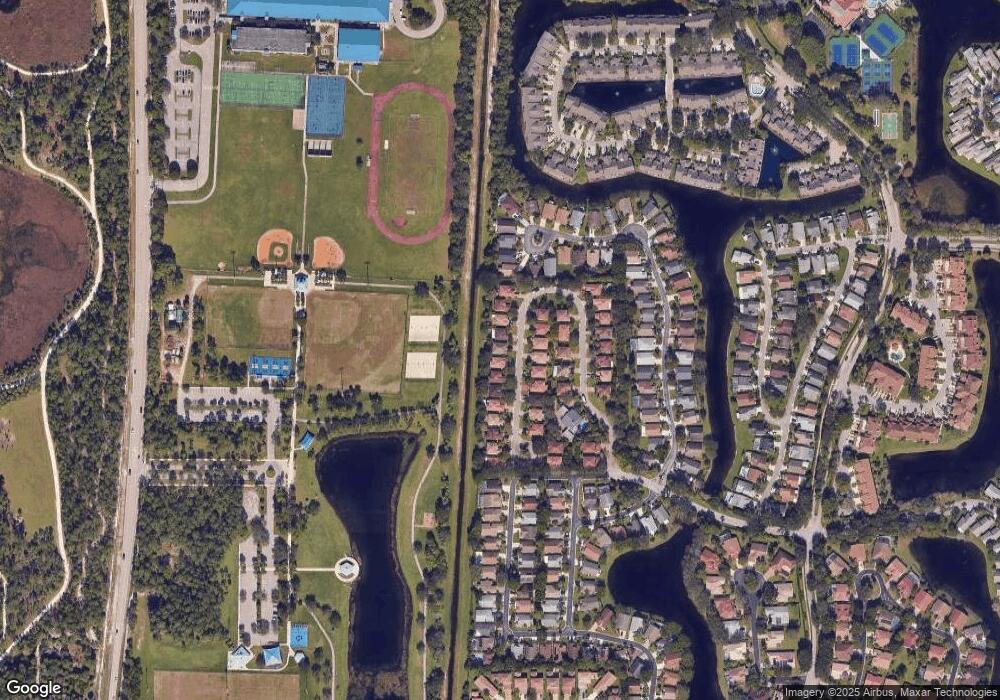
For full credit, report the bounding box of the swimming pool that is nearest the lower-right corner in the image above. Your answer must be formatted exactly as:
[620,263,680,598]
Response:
[888,350,906,365]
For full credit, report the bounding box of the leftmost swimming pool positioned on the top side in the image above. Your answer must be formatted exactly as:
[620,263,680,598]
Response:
[747,72,768,98]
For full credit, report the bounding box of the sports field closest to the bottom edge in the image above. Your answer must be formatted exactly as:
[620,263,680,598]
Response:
[154,671,299,700]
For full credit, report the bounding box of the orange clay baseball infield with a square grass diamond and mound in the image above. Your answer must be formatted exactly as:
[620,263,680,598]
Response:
[256,227,295,266]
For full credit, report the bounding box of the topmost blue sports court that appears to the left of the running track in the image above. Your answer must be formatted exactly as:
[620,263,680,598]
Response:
[304,75,346,137]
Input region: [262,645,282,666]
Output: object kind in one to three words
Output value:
building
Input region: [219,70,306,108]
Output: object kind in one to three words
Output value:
sports court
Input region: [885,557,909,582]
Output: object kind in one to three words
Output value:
house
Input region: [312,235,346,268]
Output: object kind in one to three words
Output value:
baseball field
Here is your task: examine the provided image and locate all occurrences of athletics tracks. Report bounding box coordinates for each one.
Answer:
[367,83,453,244]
